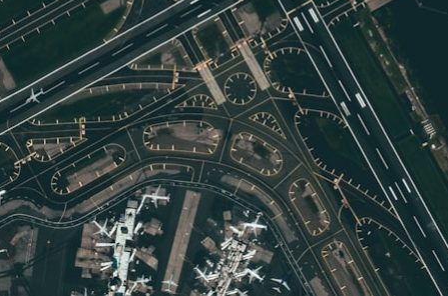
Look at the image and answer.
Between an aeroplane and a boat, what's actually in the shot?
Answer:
aeroplane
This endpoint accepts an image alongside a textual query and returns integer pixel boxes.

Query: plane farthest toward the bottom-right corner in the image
[274,272,293,293]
